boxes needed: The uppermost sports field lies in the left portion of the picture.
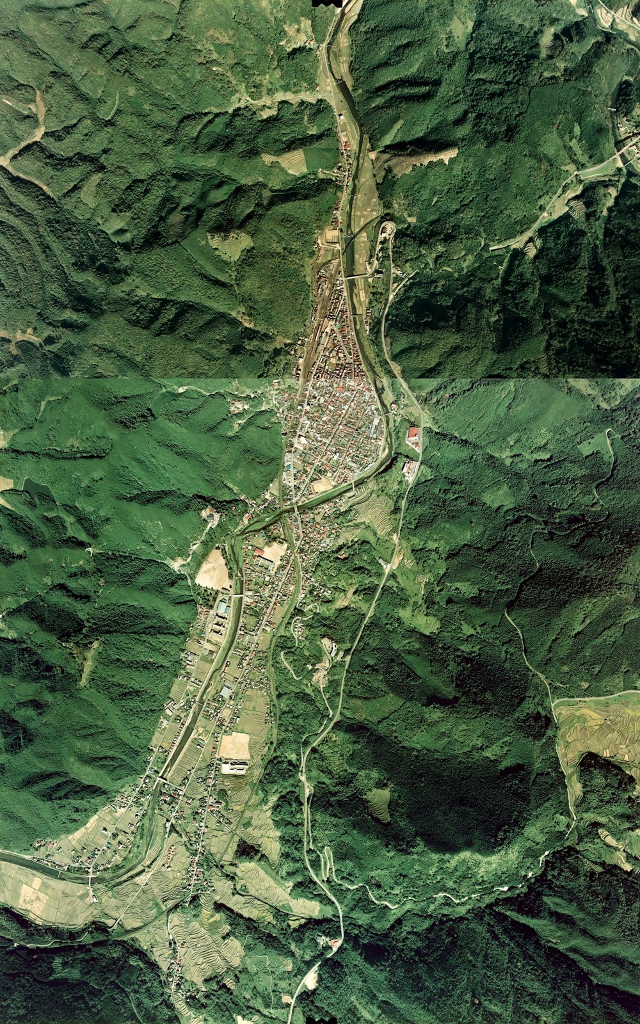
[196,549,232,588]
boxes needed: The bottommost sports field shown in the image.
[219,732,251,758]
